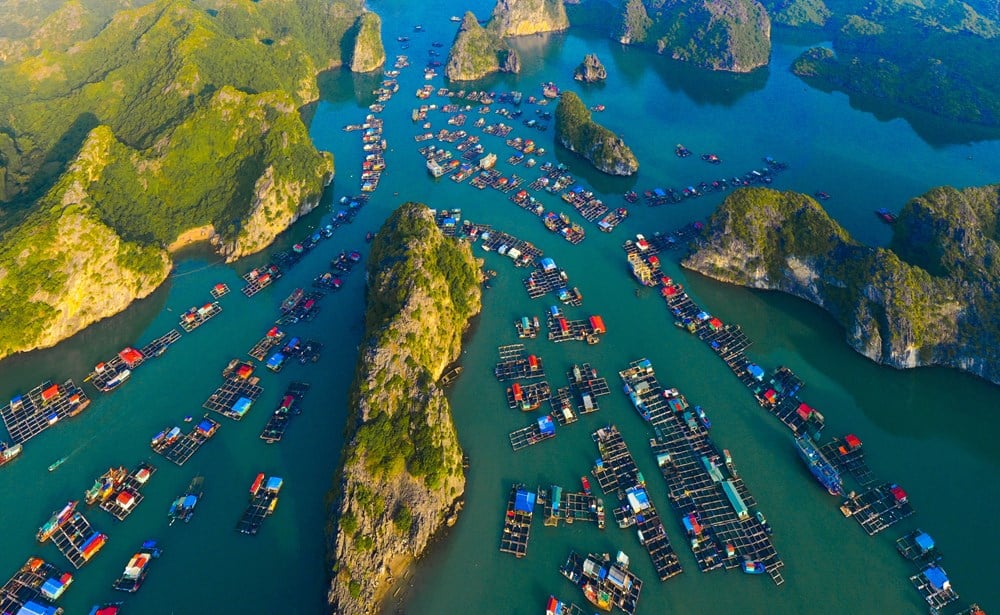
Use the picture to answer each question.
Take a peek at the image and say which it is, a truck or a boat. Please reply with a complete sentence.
The one in the frame is a boat.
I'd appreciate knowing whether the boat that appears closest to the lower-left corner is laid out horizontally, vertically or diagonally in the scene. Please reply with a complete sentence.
The boat that appears closest to the lower-left corner is oriented diagonally.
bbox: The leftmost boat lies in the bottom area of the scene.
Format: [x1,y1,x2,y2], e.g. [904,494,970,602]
[0,438,26,468]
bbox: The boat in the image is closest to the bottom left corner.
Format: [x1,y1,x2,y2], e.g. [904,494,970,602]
[29,497,81,541]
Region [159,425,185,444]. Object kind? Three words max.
boat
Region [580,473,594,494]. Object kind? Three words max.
boat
